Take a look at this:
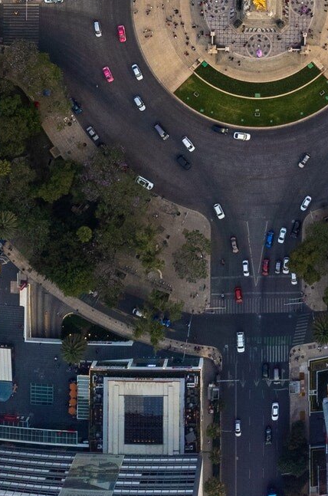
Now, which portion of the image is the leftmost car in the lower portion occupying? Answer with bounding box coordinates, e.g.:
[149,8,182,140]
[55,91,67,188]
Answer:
[128,306,145,319]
